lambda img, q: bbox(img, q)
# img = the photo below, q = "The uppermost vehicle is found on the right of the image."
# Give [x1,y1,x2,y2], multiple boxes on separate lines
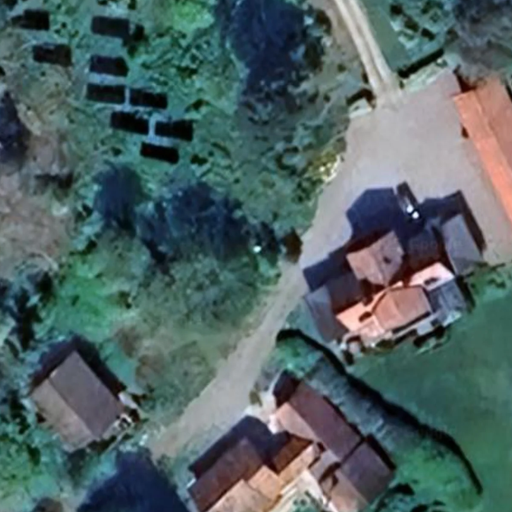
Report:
[395,182,424,222]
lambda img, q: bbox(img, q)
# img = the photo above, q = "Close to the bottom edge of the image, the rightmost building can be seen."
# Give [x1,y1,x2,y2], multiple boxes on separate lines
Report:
[188,379,393,512]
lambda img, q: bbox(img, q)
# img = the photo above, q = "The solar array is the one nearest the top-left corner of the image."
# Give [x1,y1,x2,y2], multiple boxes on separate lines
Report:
[24,9,53,29]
